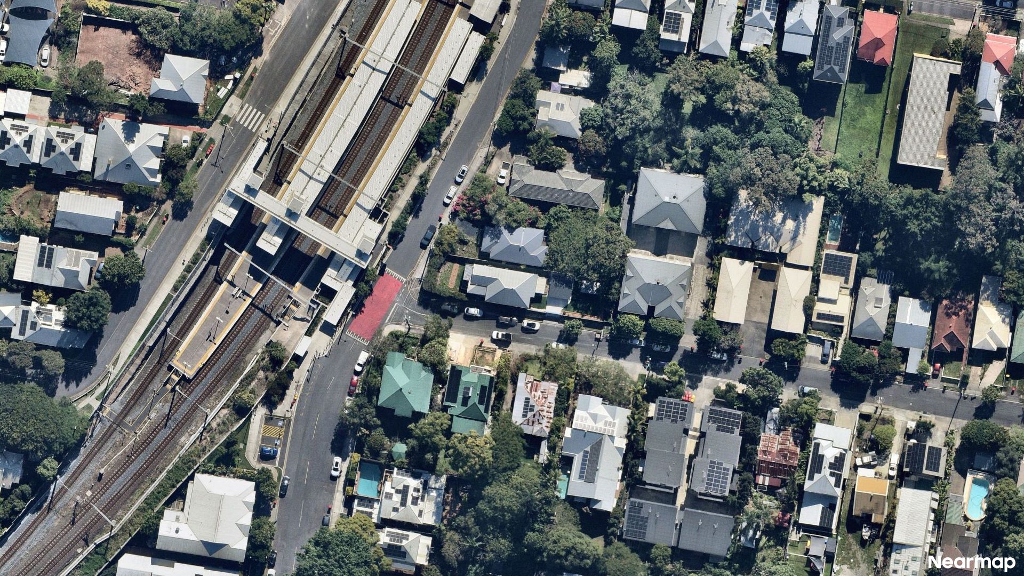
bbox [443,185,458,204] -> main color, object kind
white car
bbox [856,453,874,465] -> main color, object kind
white vehicle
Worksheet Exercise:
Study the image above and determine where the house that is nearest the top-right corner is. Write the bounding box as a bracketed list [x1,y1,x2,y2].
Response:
[976,33,1017,122]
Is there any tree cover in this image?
Yes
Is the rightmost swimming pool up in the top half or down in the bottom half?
bottom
